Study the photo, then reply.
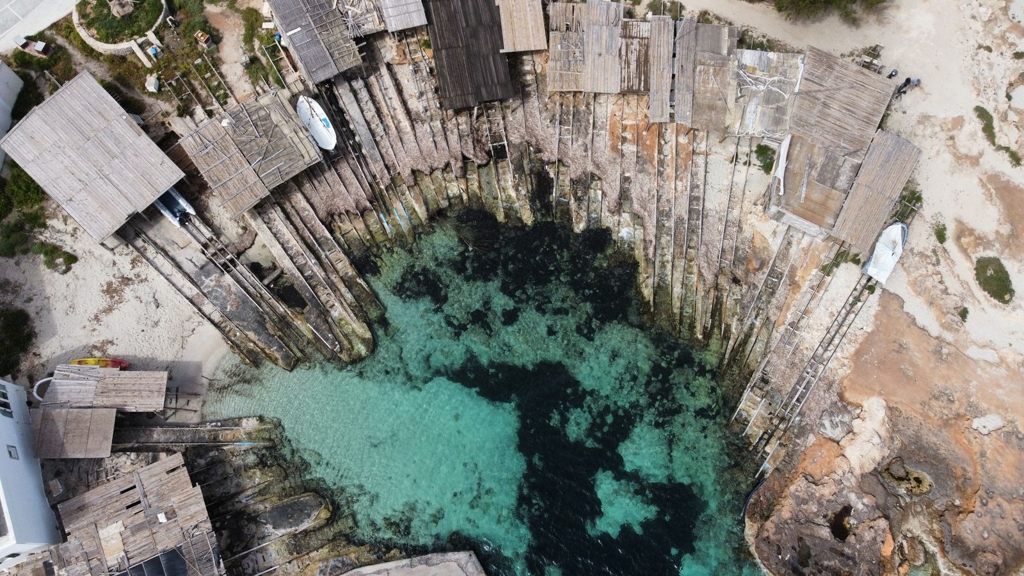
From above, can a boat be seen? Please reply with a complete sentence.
Yes, you can see a boat in this photo.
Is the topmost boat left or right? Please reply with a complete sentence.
It is on the left.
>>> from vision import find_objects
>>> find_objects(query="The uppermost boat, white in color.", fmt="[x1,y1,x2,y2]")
[296,94,341,155]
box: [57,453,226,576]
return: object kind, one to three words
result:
shed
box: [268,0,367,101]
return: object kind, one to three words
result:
shed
